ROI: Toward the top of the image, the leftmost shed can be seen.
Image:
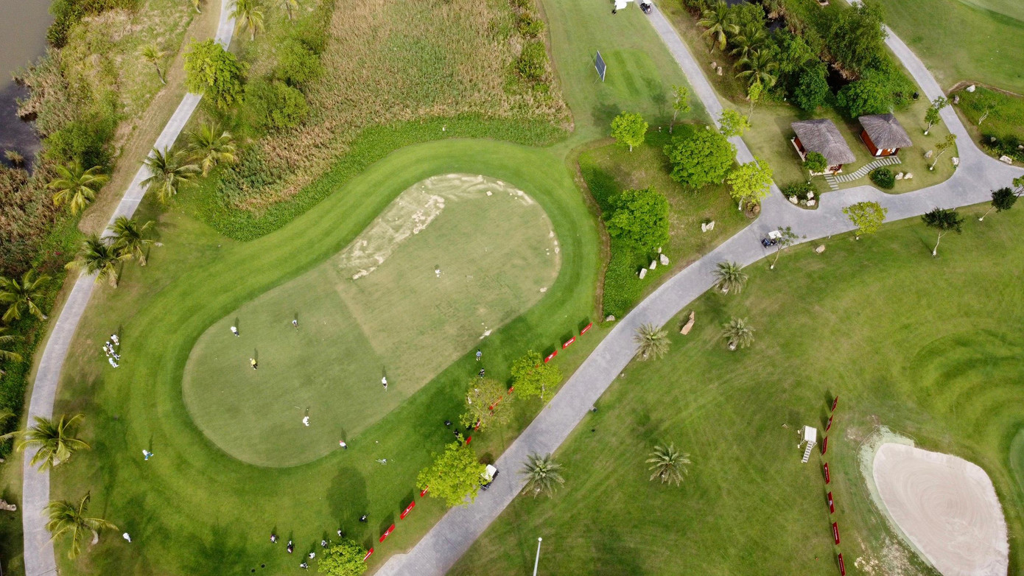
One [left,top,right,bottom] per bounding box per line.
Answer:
[786,119,856,178]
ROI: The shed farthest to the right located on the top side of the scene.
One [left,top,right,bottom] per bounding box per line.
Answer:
[856,113,913,160]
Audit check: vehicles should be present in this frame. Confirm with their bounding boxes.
[476,466,500,497]
[760,228,785,252]
[641,0,654,15]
